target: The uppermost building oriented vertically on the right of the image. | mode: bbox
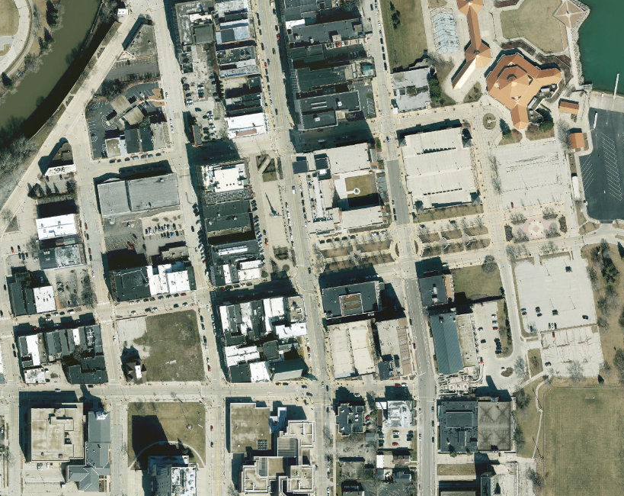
[454,0,491,89]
